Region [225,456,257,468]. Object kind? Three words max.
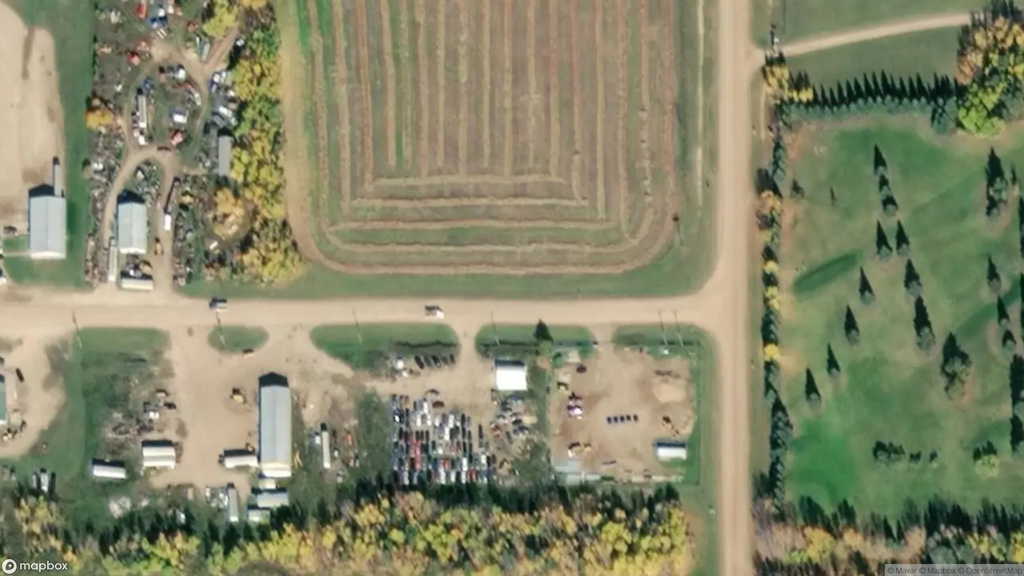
shed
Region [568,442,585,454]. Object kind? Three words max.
vehicle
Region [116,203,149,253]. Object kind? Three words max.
barn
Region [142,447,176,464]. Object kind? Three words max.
shed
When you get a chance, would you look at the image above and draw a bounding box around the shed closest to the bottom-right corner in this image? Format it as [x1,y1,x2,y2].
[657,448,687,460]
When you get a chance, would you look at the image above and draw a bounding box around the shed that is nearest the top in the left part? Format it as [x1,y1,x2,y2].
[217,137,234,178]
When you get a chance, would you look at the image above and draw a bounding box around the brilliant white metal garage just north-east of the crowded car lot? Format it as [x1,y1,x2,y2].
[495,368,528,390]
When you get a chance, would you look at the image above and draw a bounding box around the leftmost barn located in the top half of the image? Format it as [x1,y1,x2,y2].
[27,197,69,259]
